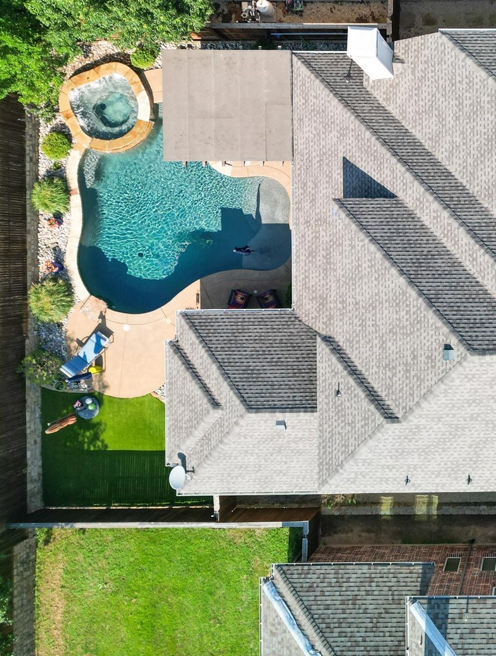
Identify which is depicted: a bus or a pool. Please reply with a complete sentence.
The one in the frame is a pool.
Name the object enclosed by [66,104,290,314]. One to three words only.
swimming pool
